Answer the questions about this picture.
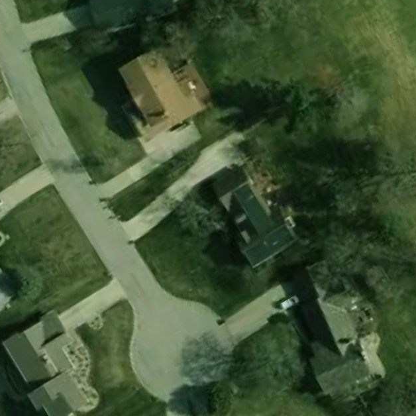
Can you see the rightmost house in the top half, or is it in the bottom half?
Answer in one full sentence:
You can find the rightmost house in the bottom half.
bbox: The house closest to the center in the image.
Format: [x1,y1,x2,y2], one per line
[213,168,297,270]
